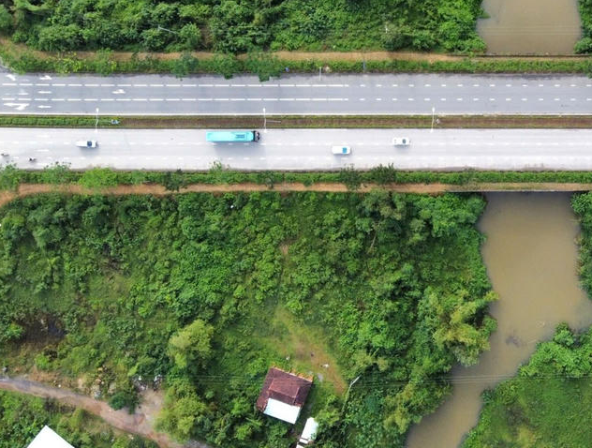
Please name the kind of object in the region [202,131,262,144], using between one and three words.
vehicle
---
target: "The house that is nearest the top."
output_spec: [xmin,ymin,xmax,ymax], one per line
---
[259,366,314,421]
